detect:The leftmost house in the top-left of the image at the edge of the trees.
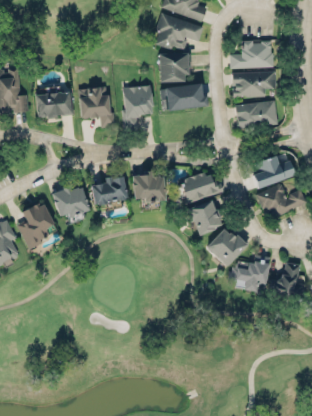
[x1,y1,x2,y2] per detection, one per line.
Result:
[0,66,28,114]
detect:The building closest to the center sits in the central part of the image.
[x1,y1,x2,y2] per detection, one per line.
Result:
[134,175,167,201]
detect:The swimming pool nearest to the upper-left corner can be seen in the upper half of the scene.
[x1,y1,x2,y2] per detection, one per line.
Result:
[38,69,66,86]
